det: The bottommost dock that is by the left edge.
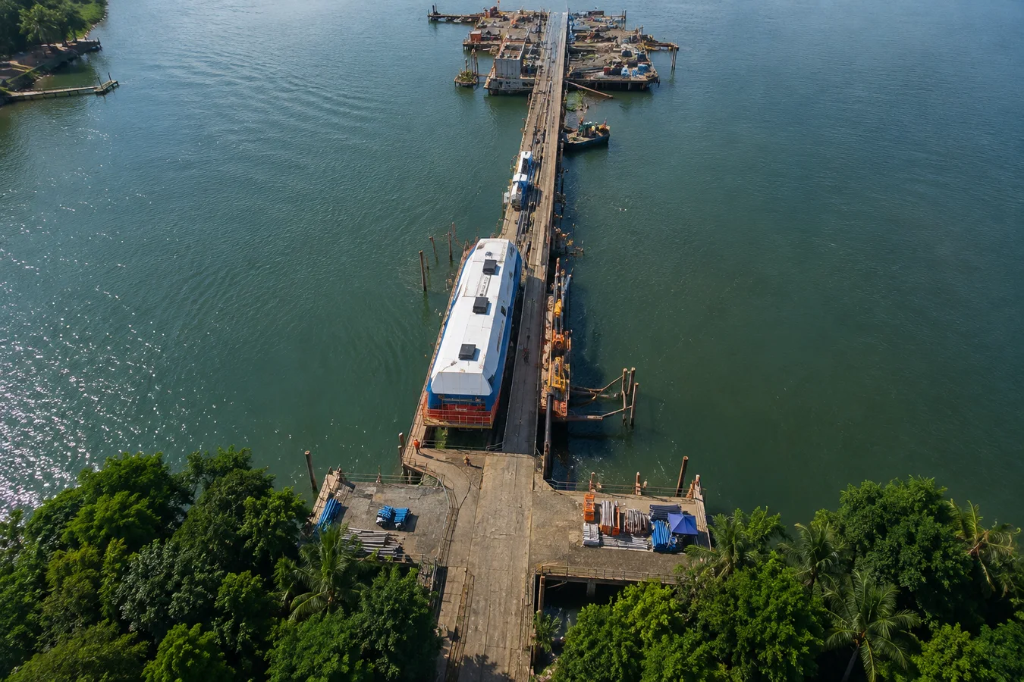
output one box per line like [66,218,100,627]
[6,65,119,104]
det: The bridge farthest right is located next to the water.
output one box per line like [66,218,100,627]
[498,12,567,470]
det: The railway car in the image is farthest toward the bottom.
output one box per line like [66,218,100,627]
[510,150,531,209]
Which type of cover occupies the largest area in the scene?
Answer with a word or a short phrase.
water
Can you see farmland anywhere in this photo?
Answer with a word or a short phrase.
No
